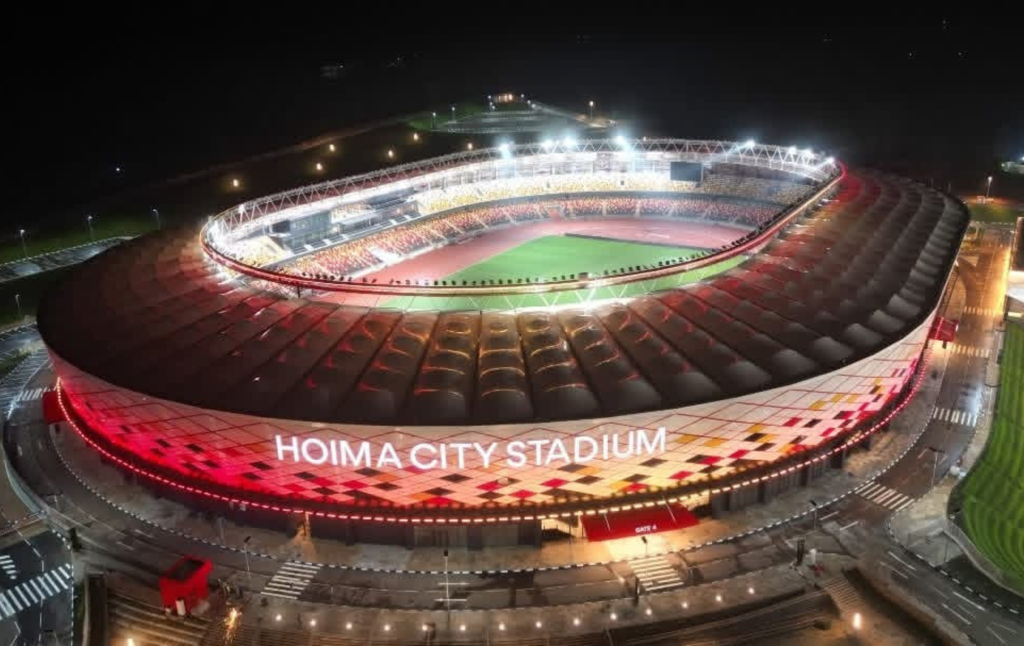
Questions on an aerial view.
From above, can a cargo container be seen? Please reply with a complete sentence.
No, the frame has no cargo container in it.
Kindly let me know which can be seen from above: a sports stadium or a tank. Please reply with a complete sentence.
Looking from above, you can make out a sports stadium.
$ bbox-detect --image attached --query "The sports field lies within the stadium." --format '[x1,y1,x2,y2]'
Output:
[379,234,756,318]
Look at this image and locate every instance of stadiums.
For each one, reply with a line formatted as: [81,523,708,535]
[28,136,970,551]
